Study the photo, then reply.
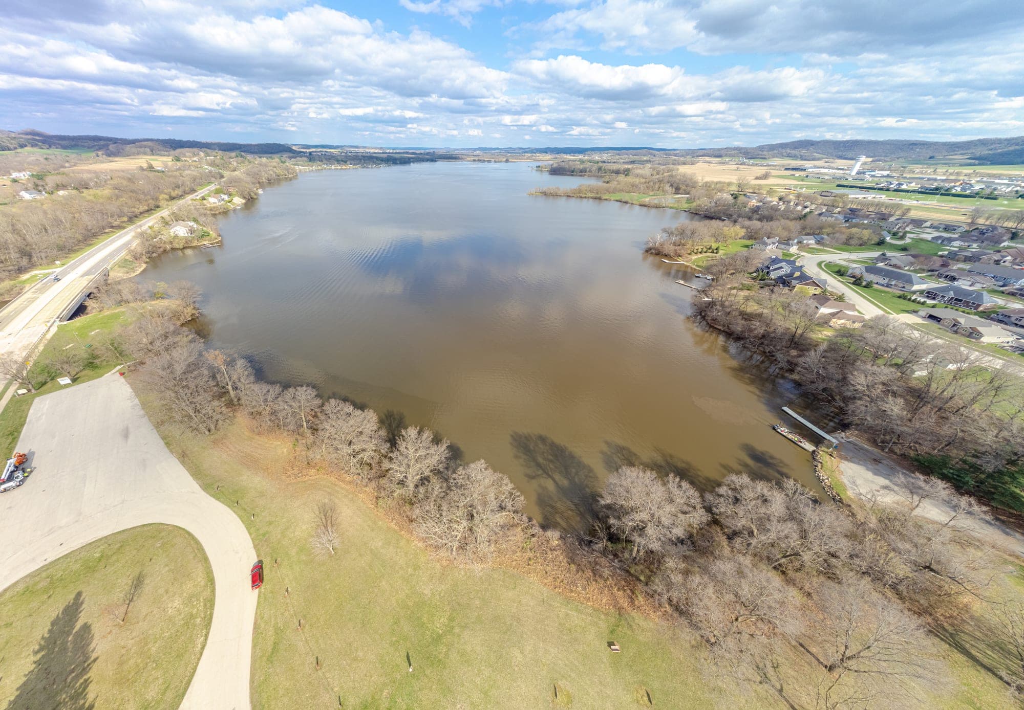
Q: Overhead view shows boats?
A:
Yes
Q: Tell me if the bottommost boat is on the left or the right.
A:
right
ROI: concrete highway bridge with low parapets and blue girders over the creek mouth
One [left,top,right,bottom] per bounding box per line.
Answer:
[0,254,132,341]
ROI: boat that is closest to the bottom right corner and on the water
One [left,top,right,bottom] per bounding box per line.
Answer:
[772,419,815,451]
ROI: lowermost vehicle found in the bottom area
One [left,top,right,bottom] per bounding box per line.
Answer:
[247,561,265,590]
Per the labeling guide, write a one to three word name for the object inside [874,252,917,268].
house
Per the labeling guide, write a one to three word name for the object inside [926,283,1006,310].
house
